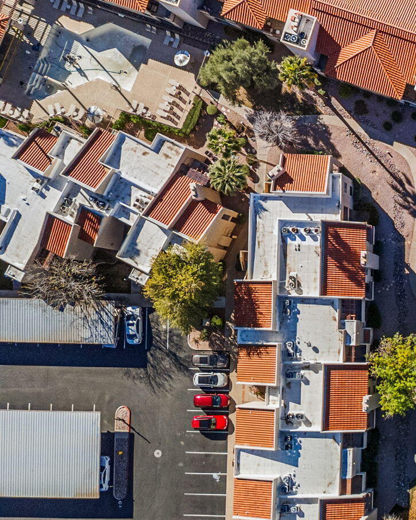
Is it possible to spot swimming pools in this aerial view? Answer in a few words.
Yes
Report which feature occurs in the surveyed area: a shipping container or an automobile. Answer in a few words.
automobile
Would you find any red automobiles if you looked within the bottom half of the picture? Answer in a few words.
Yes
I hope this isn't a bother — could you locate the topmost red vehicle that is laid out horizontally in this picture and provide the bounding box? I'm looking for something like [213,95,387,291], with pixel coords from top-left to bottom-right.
[190,393,229,410]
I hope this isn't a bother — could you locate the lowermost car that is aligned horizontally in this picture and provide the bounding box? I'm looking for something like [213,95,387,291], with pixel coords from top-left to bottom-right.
[189,415,227,432]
